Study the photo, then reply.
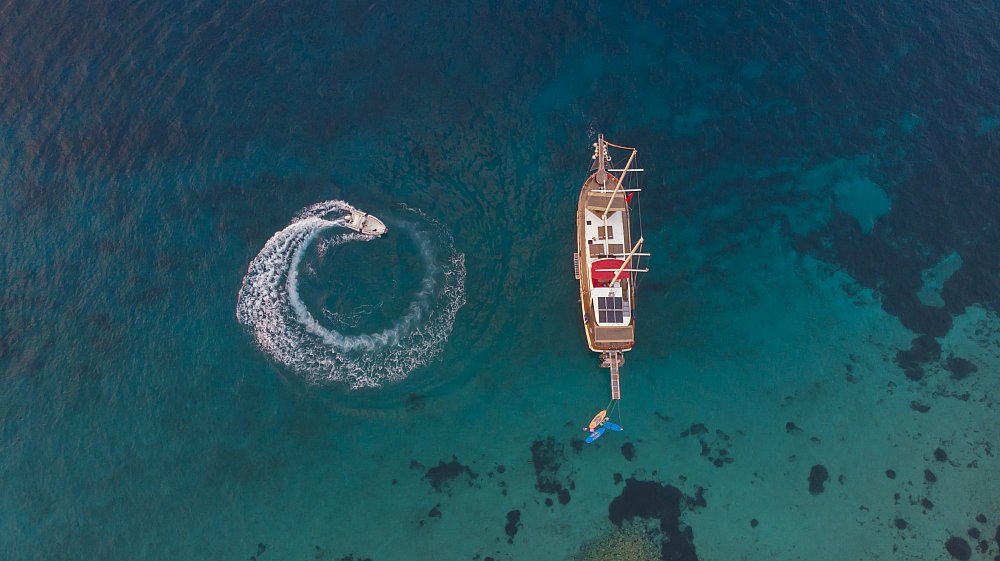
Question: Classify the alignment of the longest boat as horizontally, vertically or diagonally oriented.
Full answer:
What the image shows is the longest boat lying vertically.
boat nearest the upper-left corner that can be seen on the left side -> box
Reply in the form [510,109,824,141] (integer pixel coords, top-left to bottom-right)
[344,210,387,231]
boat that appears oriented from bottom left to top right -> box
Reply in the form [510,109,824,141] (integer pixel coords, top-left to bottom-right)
[590,410,606,429]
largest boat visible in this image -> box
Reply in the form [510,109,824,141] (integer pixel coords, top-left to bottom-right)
[573,129,650,400]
